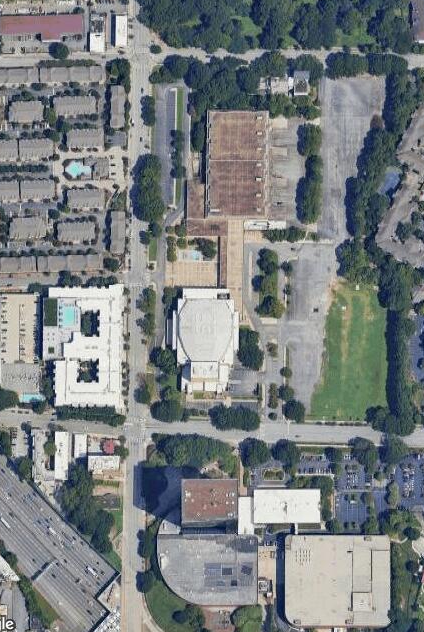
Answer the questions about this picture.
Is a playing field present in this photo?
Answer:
Yes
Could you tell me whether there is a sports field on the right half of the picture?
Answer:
Yes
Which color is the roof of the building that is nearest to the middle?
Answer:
white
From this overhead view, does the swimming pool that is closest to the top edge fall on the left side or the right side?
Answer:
left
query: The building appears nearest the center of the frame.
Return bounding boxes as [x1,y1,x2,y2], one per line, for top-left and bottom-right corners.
[174,288,239,395]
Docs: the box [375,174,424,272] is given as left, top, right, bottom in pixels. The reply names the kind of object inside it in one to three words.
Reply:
building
